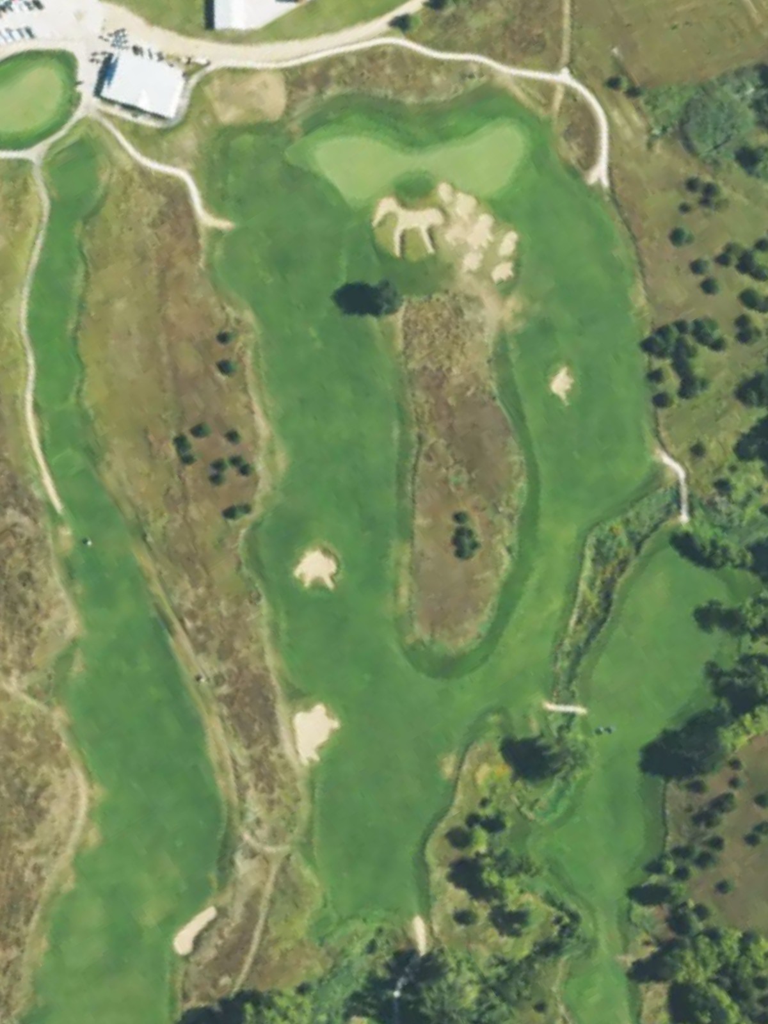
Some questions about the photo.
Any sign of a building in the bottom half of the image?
No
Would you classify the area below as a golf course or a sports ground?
golf course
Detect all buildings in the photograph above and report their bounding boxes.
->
[213,0,246,28]
[100,49,185,117]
